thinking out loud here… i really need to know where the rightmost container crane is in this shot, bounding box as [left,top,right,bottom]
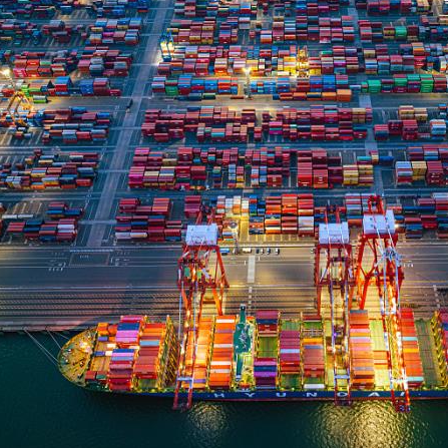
[352,194,412,408]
